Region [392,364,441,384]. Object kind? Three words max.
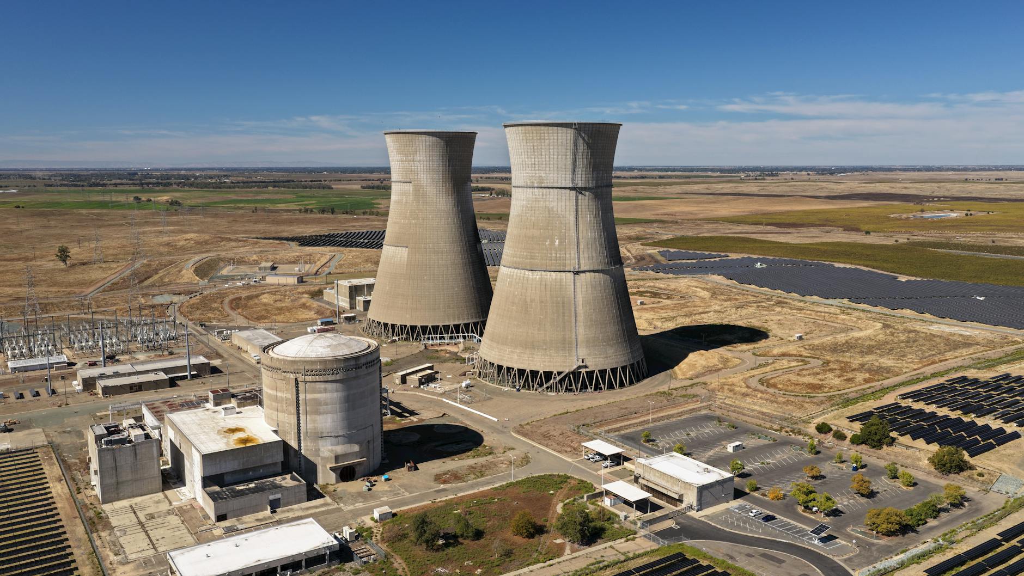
building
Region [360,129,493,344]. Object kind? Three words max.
cooling tower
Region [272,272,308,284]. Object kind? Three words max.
building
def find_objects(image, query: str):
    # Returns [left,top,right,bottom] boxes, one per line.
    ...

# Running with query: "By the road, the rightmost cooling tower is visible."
[474,119,651,396]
